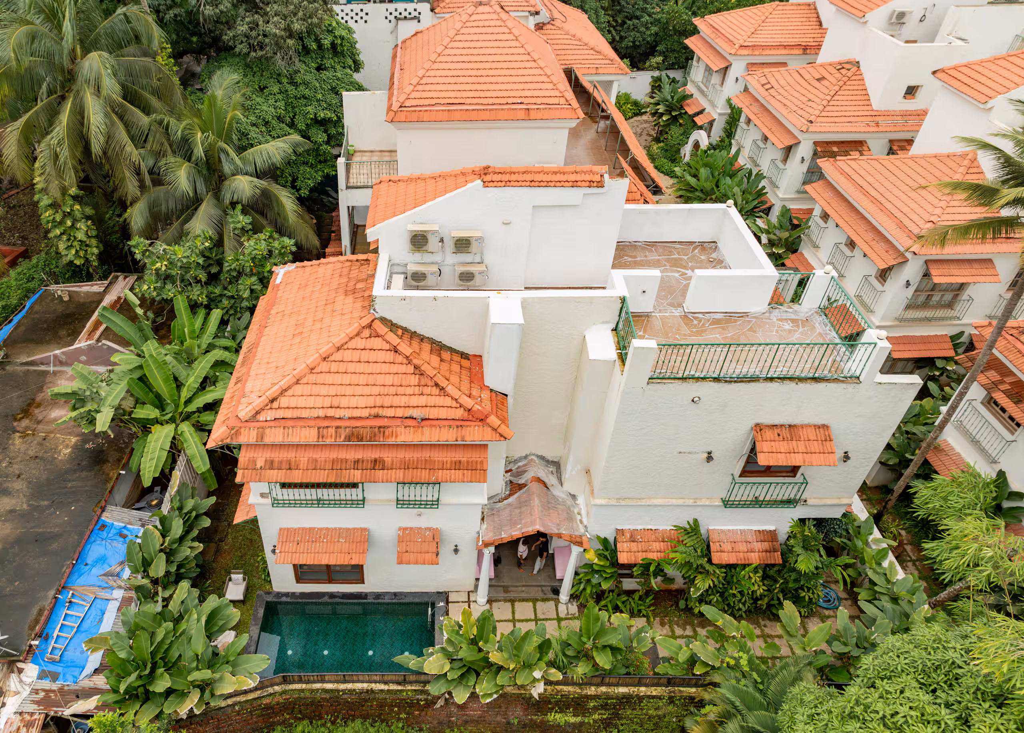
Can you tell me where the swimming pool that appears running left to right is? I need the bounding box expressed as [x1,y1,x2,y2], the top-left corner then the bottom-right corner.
[235,591,448,684]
